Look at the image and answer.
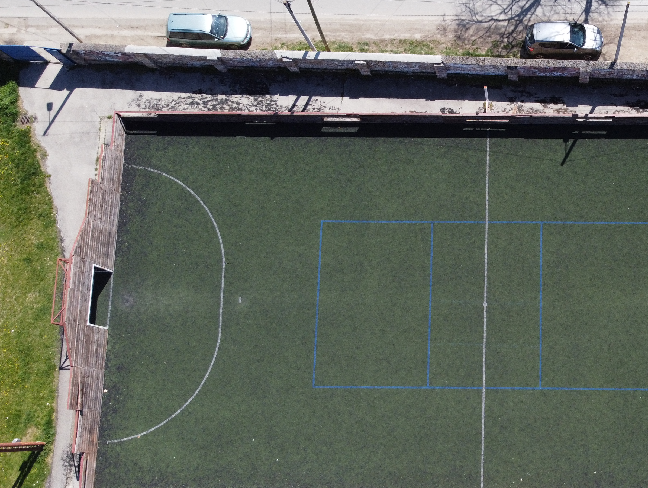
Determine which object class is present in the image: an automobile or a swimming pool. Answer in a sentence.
It is an automobile that can be seen here.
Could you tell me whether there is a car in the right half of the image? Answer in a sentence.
Yes, the scene does show a car in the right half of the image.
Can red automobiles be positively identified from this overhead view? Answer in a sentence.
No, I can see no red automobile in this picture.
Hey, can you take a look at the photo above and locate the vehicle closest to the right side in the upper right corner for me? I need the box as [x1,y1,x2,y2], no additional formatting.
[526,19,600,60]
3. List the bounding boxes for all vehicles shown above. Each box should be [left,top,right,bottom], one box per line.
[526,19,600,60]
[162,8,250,49]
